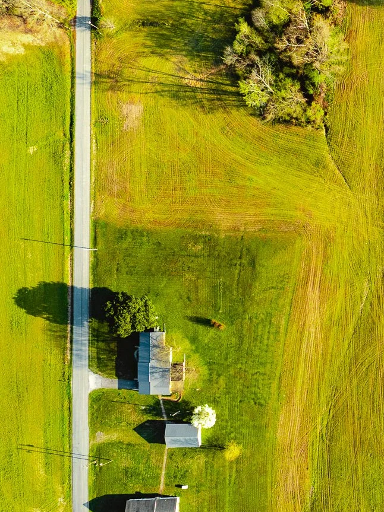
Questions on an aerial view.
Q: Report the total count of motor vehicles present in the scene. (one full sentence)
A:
No motor vehicles are visible.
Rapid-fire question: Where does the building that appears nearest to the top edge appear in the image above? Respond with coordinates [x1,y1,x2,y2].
[134,325,172,396]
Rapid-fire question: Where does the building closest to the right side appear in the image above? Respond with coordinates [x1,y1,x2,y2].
[163,423,202,447]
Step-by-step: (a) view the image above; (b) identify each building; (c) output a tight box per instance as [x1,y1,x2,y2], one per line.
[125,495,182,512]
[134,325,172,396]
[163,423,202,447]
